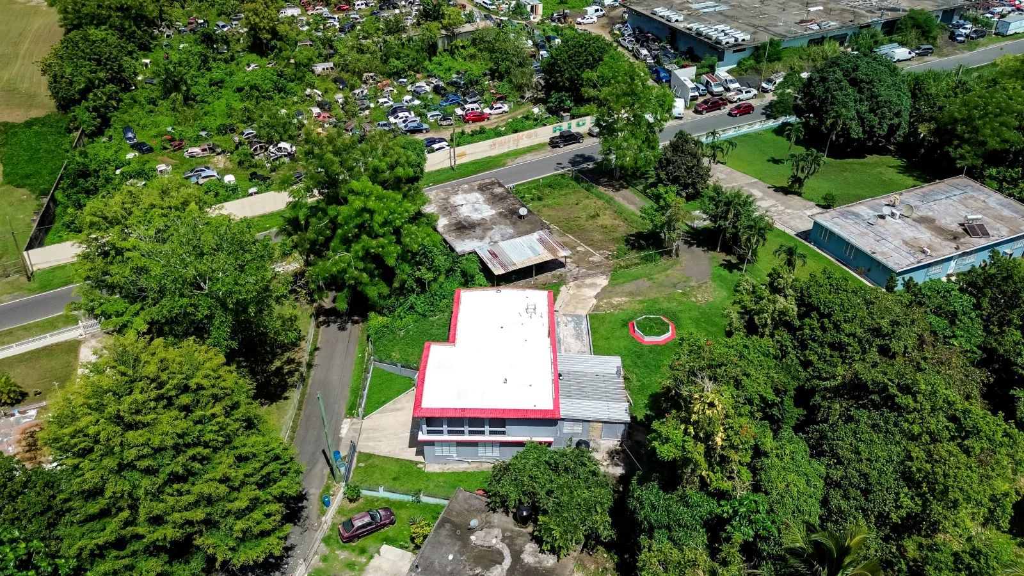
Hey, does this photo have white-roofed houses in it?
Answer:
Yes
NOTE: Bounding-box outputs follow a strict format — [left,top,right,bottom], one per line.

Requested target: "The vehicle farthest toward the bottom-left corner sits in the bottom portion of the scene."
[337,513,395,546]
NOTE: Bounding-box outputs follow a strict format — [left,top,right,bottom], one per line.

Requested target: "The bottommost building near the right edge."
[809,175,1024,288]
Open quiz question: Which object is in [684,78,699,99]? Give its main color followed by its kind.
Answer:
white vehicle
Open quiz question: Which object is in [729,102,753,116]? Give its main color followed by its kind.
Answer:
red car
